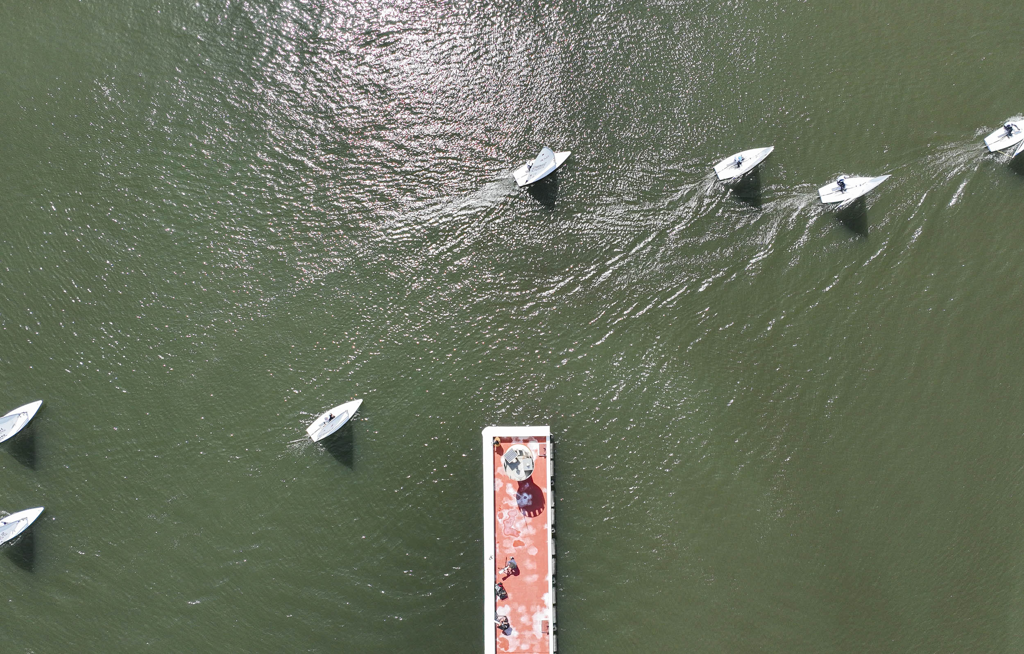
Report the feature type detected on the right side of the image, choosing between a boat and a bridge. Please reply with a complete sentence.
Visible on the right side of the image is a boat.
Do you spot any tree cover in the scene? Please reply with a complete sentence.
No, there is no tree cover in the image.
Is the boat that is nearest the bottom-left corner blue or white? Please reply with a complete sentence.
The boat that is nearest the bottom-left corner is white.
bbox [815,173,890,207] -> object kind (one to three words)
boat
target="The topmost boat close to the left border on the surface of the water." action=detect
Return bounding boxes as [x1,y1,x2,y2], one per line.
[0,400,44,442]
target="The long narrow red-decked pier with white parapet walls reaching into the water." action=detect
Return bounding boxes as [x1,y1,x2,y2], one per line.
[482,426,554,654]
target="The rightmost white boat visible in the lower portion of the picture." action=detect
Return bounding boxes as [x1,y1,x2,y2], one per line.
[307,400,362,442]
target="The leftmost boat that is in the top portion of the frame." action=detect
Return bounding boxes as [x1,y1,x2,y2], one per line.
[513,142,571,186]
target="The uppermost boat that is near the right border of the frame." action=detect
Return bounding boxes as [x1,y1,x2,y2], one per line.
[982,116,1024,157]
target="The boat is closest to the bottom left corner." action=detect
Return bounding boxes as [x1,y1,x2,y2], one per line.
[0,507,46,547]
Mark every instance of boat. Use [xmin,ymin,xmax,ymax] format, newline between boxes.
[307,400,362,442]
[815,173,890,207]
[712,142,774,180]
[982,116,1024,157]
[0,400,44,442]
[0,507,46,547]
[513,142,571,186]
